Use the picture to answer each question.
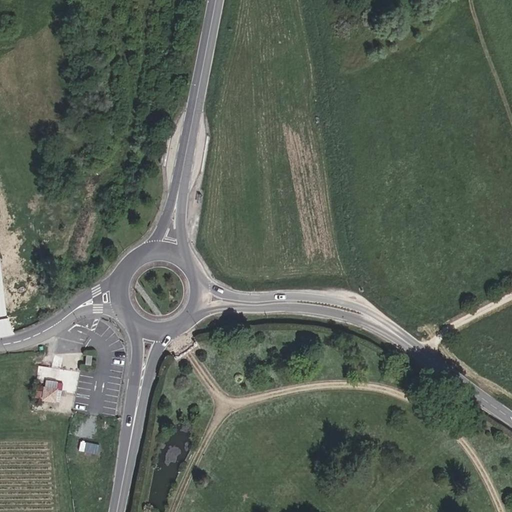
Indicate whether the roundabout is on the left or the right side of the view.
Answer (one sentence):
You can find the roundabout on the left side of the picture.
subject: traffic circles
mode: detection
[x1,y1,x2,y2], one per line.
[112,244,208,338]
